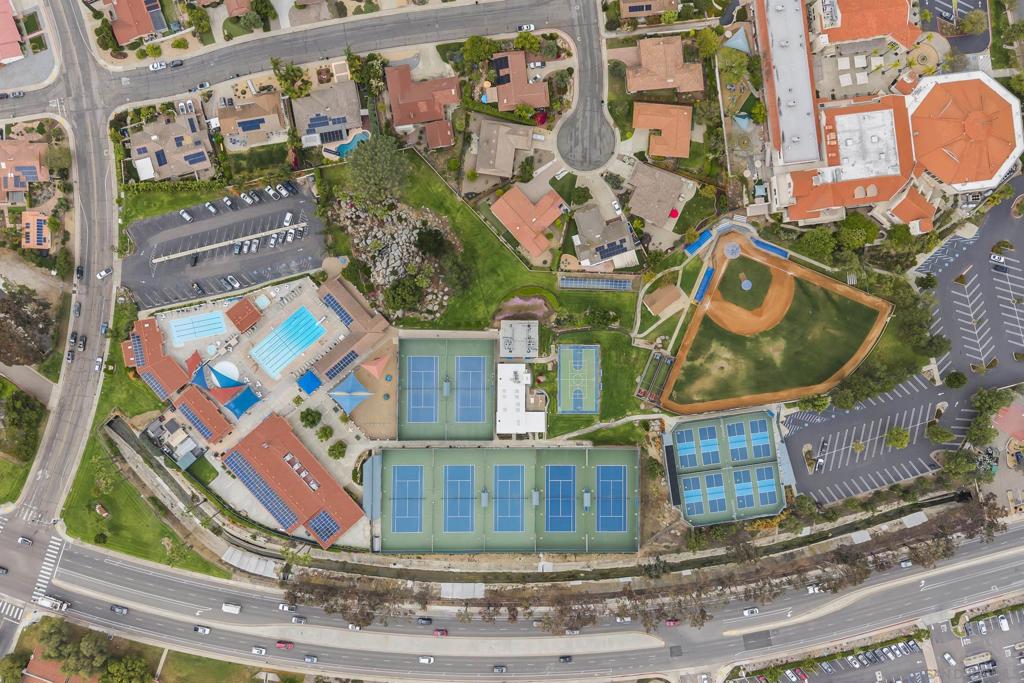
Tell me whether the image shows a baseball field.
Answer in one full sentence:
Yes, there is a baseball field in the image.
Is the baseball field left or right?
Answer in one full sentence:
The baseball field sits on the right side.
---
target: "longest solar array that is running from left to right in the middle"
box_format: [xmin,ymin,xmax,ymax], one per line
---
[559,277,632,289]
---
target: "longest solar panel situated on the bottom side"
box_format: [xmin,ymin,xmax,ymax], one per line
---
[224,453,295,529]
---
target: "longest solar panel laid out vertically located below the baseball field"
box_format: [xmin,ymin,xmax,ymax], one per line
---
[665,446,680,506]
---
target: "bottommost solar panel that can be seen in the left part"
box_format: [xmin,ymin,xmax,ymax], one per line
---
[308,512,338,542]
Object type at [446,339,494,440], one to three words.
tennis court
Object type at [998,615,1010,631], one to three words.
vehicle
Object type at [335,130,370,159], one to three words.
swimming pool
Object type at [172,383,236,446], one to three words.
building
